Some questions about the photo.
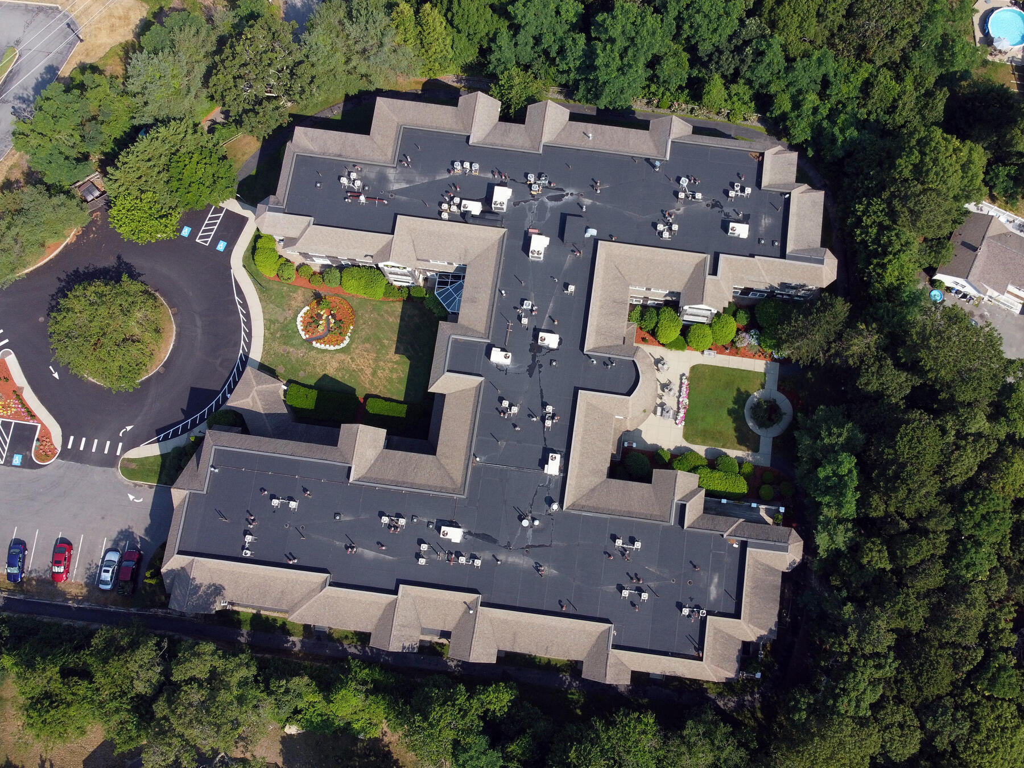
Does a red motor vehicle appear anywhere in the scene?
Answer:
Yes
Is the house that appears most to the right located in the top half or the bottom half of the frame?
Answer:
top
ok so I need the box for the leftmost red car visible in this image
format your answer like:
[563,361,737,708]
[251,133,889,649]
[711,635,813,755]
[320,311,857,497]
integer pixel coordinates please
[47,542,73,584]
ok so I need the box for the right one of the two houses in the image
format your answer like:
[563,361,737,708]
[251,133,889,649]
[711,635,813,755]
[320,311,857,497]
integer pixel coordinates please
[928,212,1024,315]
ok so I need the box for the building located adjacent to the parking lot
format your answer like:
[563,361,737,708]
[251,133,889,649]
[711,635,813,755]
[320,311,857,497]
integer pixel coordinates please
[160,91,838,685]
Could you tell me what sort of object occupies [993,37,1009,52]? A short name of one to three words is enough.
umbrella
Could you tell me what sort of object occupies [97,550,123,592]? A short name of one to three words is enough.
car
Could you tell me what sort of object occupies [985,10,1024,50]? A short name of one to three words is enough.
swimming pool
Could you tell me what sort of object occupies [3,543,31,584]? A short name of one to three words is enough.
car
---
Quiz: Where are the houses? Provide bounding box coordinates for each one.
[928,212,1024,315]
[160,91,838,685]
